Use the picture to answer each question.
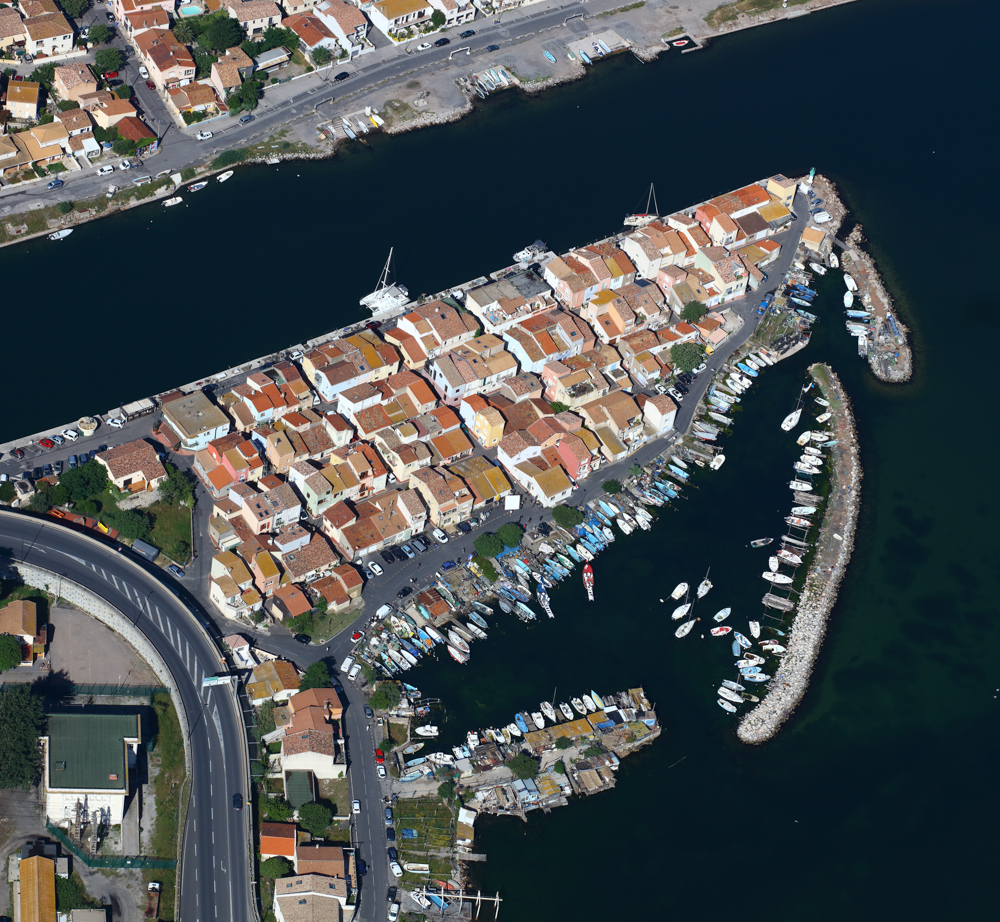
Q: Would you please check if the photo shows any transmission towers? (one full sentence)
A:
Yes, a transmission tower appears in the view.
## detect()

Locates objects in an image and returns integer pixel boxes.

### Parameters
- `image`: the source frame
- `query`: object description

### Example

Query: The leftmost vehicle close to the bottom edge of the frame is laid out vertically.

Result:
[146,881,160,915]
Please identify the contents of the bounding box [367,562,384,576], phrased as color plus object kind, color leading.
white car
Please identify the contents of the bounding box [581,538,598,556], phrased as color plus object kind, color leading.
blue boat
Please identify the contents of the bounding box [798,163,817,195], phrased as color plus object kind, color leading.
white lighthouse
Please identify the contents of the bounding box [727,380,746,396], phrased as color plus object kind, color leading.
white boat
